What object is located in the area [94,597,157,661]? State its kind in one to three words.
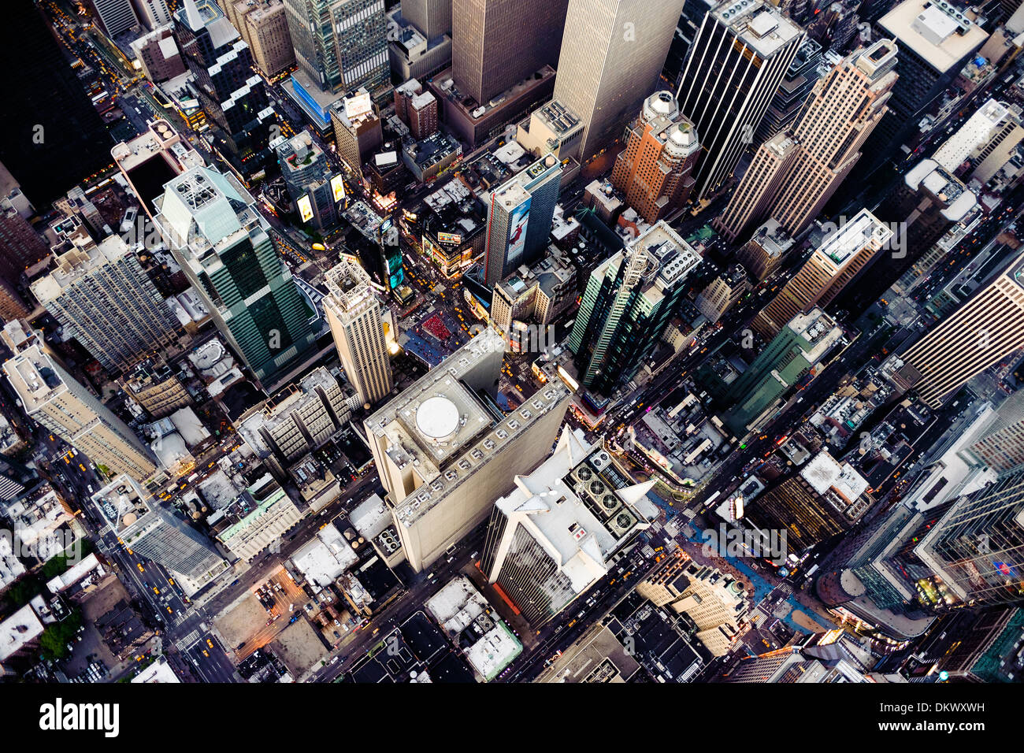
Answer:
building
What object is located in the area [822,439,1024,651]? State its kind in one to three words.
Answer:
building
